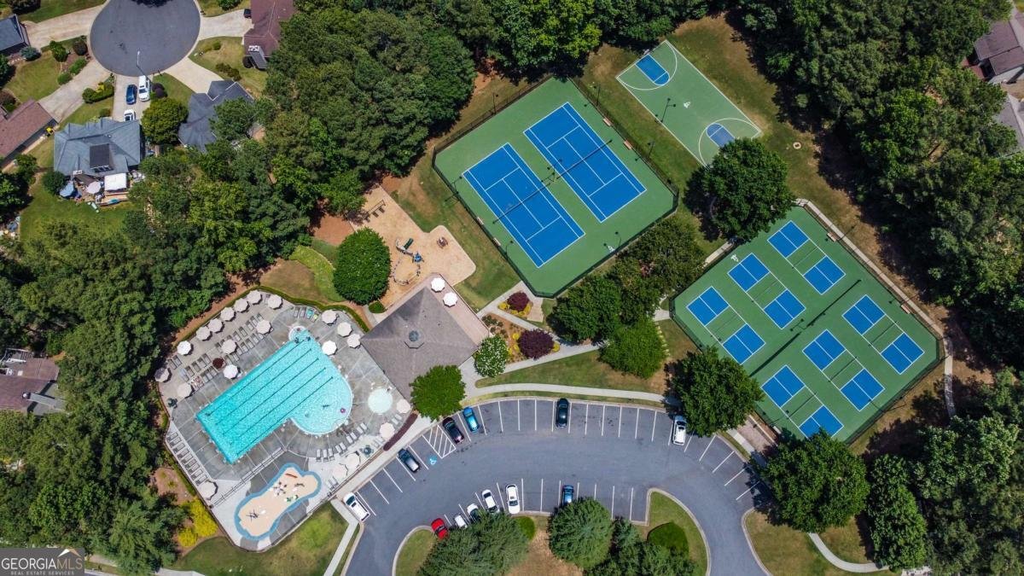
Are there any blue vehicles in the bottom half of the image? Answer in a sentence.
Yes, a blue vehicle appears in the bottom half of the image.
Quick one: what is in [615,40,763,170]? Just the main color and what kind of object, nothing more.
green basketball court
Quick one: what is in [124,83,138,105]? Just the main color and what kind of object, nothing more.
blue car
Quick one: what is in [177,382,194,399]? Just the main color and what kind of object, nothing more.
white umbrella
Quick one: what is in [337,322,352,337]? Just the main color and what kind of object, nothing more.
white umbrella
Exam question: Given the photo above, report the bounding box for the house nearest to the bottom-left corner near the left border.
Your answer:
[0,355,71,415]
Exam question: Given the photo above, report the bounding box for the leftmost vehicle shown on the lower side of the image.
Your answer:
[344,491,369,523]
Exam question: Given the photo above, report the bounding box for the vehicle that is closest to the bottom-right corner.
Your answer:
[673,416,688,445]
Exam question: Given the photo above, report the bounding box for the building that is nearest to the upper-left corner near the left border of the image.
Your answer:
[0,15,30,68]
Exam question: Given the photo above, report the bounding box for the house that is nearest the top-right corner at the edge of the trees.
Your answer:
[967,20,1024,85]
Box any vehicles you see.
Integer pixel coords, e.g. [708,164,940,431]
[124,83,138,105]
[428,514,450,544]
[555,399,569,427]
[137,74,151,100]
[673,416,688,445]
[506,483,520,514]
[450,509,467,533]
[344,491,369,523]
[481,486,501,516]
[442,419,464,444]
[560,483,573,510]
[462,405,479,434]
[465,500,485,530]
[124,107,136,123]
[240,7,250,19]
[398,446,421,475]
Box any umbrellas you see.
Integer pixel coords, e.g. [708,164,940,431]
[323,340,338,355]
[155,367,171,383]
[396,398,411,414]
[209,318,224,332]
[380,423,397,439]
[177,382,194,399]
[59,182,76,199]
[222,338,237,354]
[221,307,236,321]
[430,277,445,292]
[443,292,458,306]
[223,364,240,380]
[337,322,352,337]
[247,290,262,303]
[234,298,250,313]
[333,464,349,481]
[200,480,216,498]
[346,333,362,348]
[213,357,226,371]
[345,454,362,471]
[322,309,338,324]
[197,325,211,340]
[177,340,194,357]
[257,320,272,334]
[269,294,283,309]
